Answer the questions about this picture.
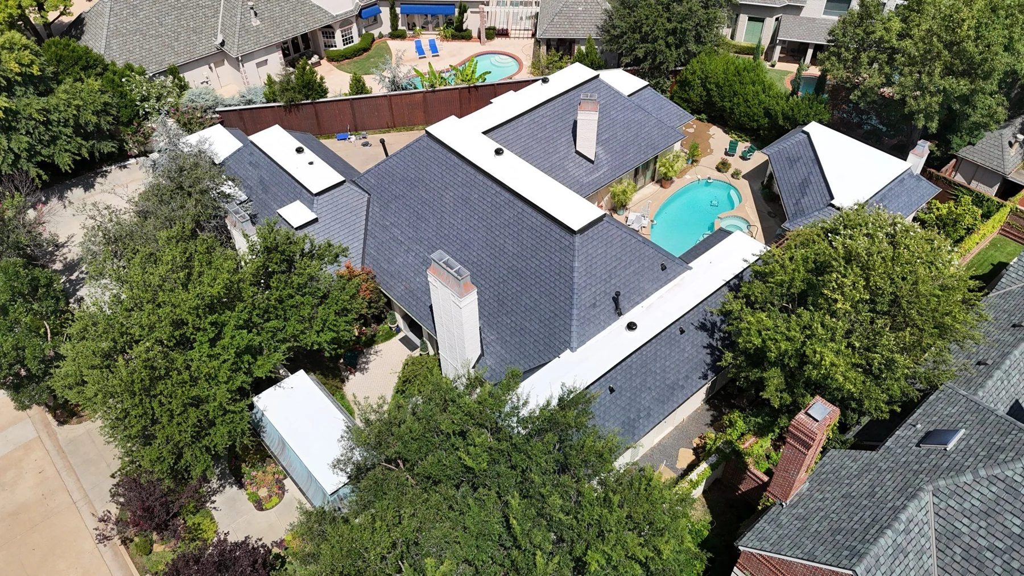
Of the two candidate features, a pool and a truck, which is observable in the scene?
pool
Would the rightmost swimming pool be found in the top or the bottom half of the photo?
top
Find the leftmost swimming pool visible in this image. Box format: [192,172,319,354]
[394,50,525,96]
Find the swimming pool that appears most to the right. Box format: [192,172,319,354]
[786,72,852,116]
